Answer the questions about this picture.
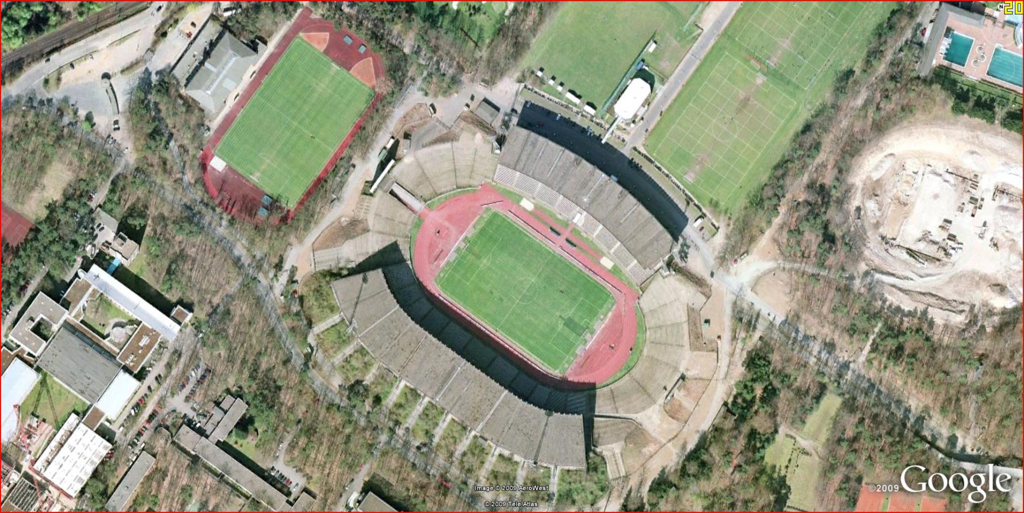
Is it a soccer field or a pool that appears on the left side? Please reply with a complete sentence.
There is a soccer field on the left side.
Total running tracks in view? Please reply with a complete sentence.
Altogether the scene contains 2 running tracks.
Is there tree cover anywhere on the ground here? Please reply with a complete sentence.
Yes, there is tree cover in the image.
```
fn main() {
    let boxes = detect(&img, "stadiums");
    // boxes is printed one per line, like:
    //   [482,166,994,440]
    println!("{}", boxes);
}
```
[302,125,704,509]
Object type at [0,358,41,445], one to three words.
building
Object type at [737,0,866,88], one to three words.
soccer field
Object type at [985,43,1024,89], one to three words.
swimming pool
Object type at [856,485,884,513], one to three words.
tennis court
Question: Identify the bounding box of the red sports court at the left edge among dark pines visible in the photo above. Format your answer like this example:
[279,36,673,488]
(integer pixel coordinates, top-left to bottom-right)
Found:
[0,206,34,252]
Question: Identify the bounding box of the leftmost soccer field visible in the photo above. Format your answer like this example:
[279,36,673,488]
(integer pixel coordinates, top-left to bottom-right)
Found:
[215,37,375,207]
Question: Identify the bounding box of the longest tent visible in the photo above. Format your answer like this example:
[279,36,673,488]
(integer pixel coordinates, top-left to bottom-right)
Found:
[613,78,652,121]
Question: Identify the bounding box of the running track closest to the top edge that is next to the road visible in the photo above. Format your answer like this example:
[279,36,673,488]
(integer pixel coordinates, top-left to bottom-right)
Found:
[200,5,384,227]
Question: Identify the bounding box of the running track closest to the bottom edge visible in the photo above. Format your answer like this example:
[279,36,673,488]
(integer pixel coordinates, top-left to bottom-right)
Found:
[405,183,645,392]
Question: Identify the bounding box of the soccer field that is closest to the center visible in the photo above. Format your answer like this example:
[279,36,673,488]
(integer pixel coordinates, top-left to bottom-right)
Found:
[432,203,618,377]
